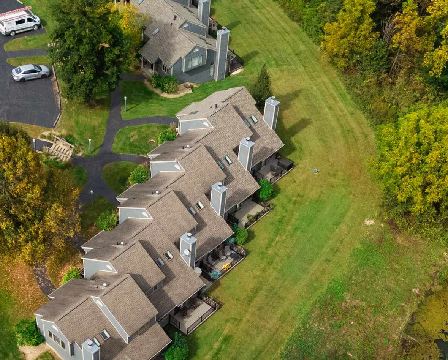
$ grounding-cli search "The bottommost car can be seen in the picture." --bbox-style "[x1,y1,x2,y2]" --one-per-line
[10,63,51,82]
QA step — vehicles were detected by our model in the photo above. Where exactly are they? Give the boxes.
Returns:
[10,63,51,82]
[0,8,44,35]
